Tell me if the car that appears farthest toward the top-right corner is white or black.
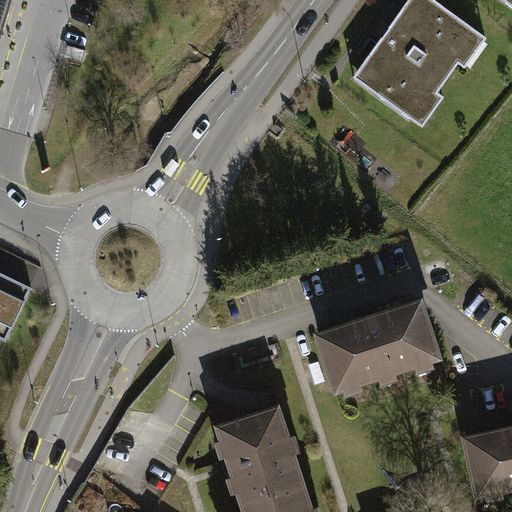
black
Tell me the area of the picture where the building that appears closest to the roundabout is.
left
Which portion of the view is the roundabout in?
left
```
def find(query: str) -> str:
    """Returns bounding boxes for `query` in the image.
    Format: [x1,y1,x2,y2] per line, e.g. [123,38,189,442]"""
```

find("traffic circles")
[58,188,198,330]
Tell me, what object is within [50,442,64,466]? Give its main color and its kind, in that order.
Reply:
black car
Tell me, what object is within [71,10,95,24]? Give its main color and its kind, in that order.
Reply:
black vehicle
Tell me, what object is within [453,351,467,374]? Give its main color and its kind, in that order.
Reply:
white car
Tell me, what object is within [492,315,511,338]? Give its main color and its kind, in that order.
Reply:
white car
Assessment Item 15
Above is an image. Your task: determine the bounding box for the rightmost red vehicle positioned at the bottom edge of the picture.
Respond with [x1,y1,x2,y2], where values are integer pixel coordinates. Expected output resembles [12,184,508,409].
[147,476,166,491]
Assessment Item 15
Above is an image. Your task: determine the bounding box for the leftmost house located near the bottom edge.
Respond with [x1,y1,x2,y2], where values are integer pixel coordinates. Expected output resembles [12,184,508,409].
[213,405,317,512]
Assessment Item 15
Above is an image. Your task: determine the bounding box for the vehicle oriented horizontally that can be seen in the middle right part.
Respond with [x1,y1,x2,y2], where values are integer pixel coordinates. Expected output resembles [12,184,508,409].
[428,269,452,282]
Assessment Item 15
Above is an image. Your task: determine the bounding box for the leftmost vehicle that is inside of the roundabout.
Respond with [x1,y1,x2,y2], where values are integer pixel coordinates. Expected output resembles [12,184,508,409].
[92,210,112,230]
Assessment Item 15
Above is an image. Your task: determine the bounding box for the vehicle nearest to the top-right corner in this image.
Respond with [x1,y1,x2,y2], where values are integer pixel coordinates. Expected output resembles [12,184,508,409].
[296,11,316,34]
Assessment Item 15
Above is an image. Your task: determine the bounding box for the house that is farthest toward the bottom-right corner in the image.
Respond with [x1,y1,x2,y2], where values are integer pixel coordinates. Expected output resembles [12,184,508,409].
[460,426,512,500]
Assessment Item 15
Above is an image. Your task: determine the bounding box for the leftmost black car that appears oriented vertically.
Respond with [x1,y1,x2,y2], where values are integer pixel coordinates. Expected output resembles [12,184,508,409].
[23,437,36,462]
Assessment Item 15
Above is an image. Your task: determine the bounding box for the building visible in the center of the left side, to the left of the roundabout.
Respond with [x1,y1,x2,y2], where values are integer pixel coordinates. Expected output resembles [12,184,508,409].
[0,274,32,341]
